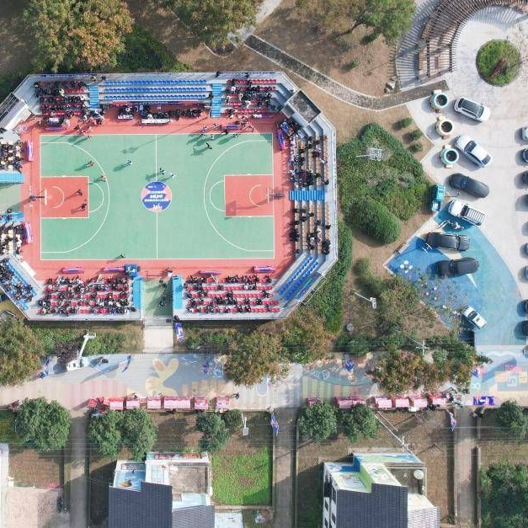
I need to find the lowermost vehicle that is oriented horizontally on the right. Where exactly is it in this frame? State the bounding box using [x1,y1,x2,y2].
[437,256,480,278]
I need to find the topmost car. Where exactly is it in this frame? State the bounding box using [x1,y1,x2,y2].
[452,94,493,125]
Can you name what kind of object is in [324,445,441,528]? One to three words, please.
house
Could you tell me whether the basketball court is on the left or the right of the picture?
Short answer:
left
